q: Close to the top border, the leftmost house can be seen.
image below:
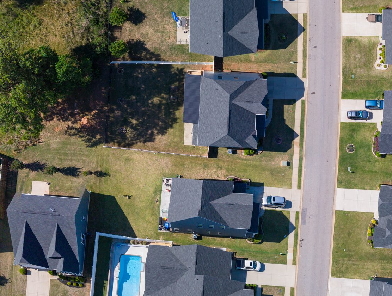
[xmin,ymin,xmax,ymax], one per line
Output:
[189,0,268,56]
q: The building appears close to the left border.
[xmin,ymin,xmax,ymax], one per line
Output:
[5,187,90,282]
